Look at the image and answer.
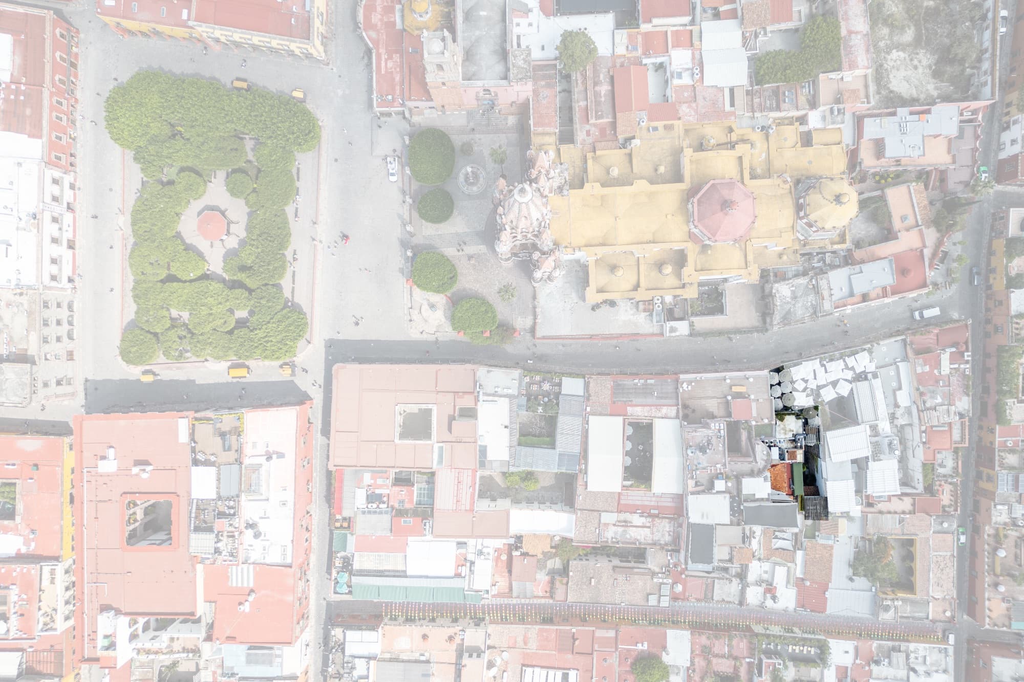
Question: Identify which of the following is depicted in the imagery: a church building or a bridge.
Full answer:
The image shows a church building.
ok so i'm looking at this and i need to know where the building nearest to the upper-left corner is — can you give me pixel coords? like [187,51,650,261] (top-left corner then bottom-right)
[0,2,81,104]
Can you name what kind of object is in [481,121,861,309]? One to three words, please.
church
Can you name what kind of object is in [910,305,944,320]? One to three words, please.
vehicle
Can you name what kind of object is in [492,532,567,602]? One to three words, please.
building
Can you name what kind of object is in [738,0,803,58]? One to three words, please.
house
